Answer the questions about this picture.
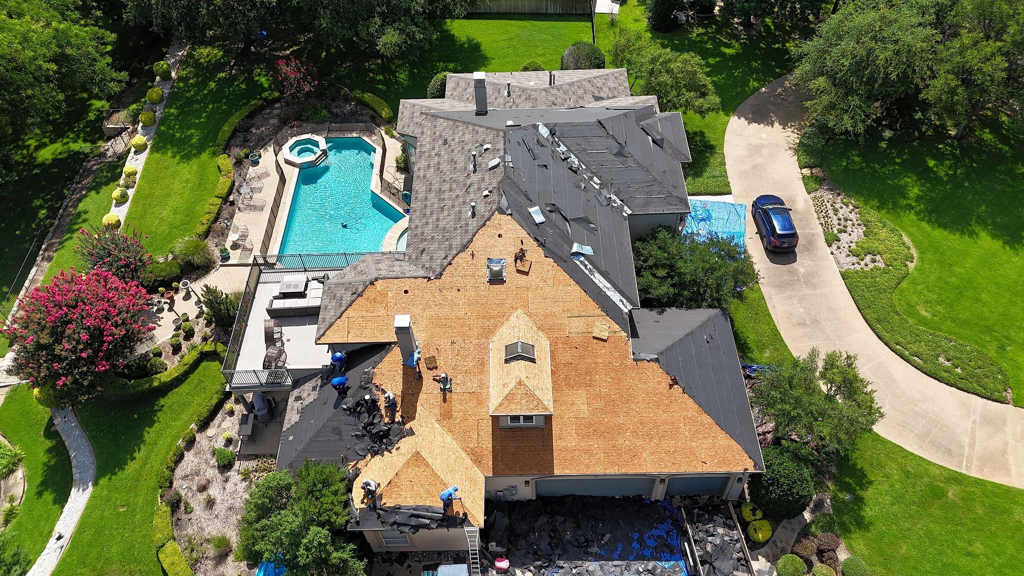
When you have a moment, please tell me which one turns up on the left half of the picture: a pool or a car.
pool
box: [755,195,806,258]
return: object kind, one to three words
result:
car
